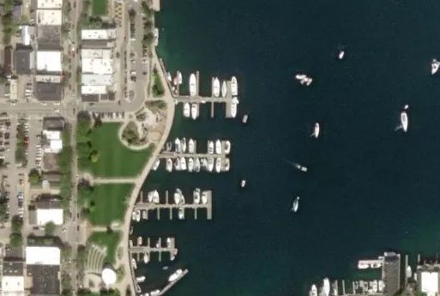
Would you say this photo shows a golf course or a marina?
marina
